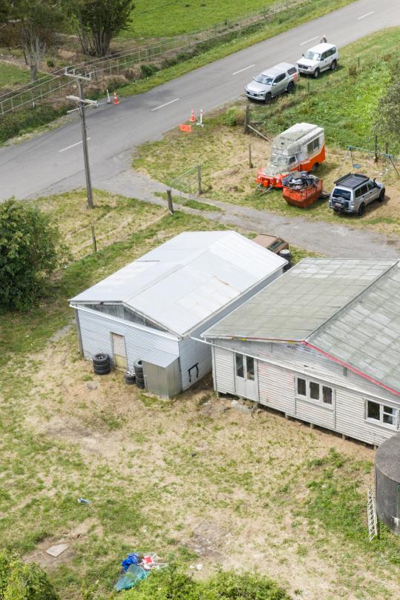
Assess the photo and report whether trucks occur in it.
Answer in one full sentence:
Yes, a truck appears in the view.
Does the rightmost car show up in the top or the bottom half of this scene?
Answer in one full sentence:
It is in the top half that the rightmost car appears.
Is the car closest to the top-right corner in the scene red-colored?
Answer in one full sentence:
No, the color of the car closest to the top-right corner is white.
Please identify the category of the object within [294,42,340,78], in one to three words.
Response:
car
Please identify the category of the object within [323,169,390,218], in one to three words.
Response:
car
